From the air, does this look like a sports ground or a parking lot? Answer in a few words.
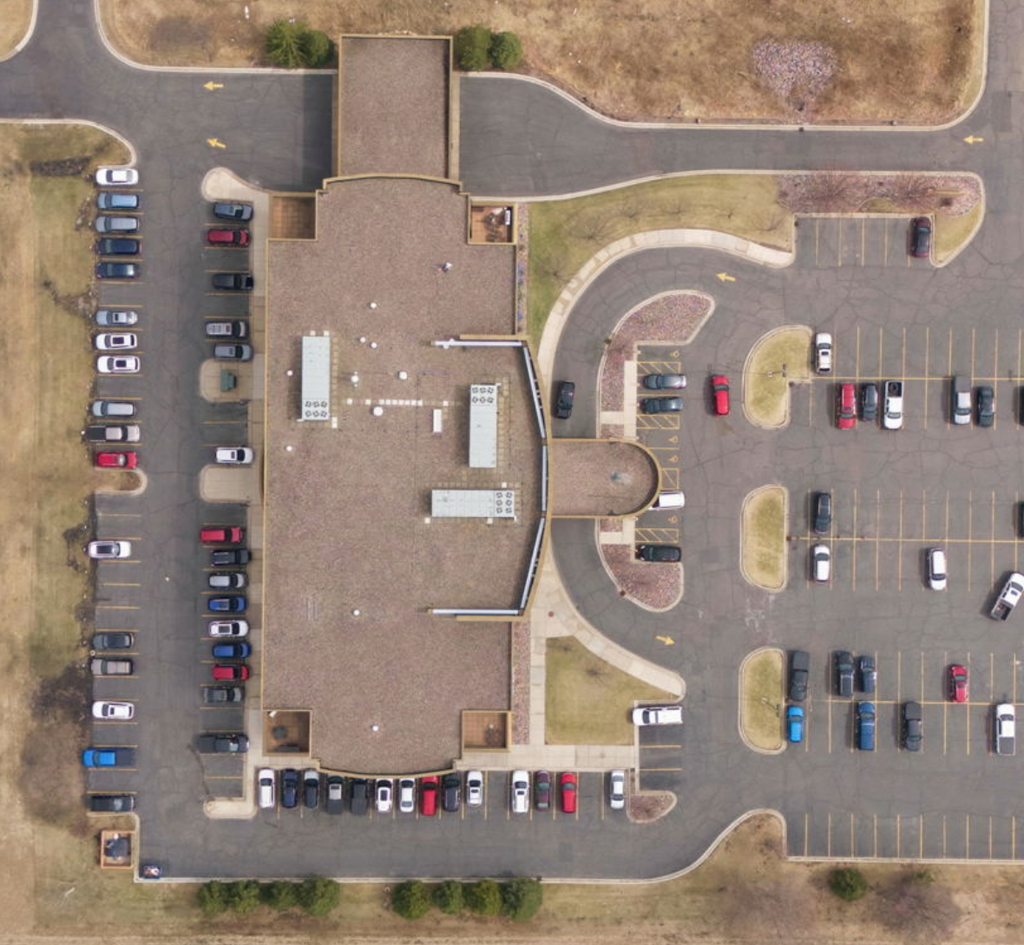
parking lot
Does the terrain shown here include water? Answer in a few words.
No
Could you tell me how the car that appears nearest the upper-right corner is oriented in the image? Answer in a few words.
from top to bottom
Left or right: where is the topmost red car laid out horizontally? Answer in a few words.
left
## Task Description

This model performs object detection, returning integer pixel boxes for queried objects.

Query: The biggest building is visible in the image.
[263,174,551,776]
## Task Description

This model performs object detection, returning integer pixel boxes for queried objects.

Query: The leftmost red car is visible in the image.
[97,450,140,470]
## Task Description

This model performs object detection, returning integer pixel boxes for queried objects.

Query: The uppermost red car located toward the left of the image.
[207,226,250,246]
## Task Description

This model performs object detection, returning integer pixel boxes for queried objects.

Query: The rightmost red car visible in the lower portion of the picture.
[947,663,968,703]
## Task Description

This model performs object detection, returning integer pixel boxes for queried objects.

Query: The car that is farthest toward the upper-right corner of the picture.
[910,217,931,258]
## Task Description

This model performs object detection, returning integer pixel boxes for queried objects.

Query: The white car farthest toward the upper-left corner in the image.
[97,166,140,186]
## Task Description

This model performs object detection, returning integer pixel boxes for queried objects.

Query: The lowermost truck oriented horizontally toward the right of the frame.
[632,705,684,727]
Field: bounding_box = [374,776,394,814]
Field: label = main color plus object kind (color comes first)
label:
white car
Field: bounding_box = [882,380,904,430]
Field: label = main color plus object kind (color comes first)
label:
white truck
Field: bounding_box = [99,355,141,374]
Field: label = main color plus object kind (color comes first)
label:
white car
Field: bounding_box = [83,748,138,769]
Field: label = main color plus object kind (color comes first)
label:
blue truck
